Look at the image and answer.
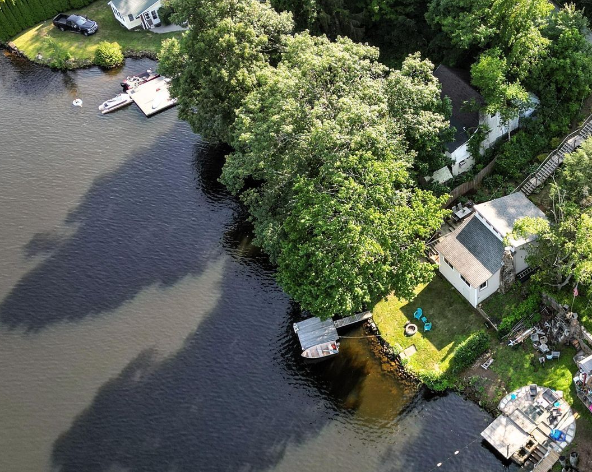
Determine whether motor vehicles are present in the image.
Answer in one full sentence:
Yes, a motor vehicle appears in the view.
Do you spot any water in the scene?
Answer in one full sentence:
Yes, there's water in this view.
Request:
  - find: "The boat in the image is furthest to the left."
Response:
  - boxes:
[101,94,127,111]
